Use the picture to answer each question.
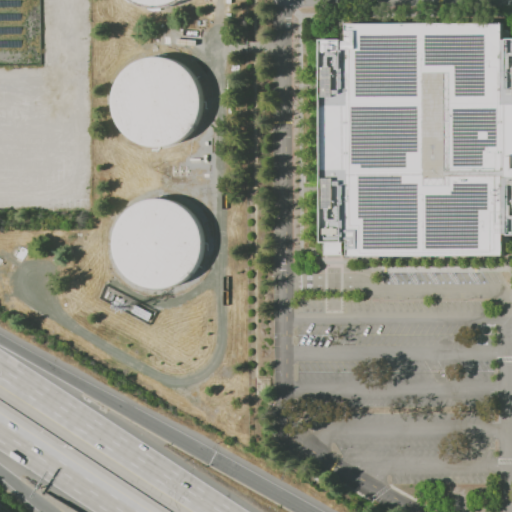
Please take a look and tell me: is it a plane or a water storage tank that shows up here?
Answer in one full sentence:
Of the two, only a water storage tank appears.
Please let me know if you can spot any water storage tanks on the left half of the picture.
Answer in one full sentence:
Yes, you'll find a water storage tank on the left half of the picture.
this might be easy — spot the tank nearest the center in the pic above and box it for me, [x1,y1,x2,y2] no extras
[111,198,213,290]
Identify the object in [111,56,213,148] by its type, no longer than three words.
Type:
water tank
